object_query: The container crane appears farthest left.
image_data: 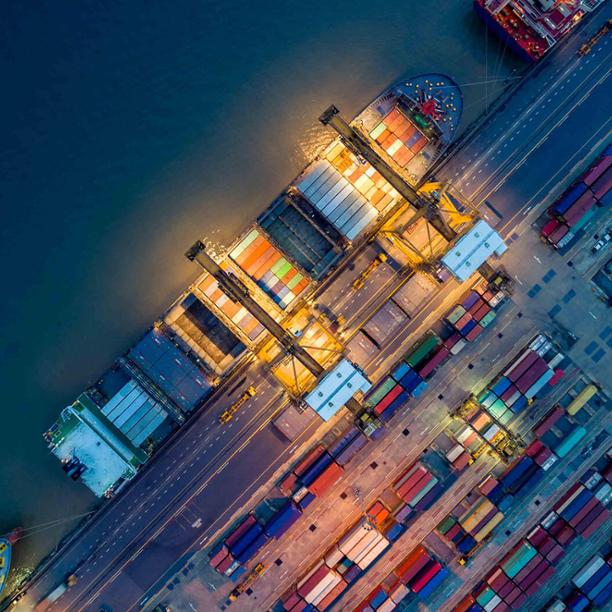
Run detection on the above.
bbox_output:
[184,240,378,433]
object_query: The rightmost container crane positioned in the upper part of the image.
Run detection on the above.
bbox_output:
[317,104,510,297]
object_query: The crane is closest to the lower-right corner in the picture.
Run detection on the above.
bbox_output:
[443,388,520,462]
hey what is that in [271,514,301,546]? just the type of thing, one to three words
shipping container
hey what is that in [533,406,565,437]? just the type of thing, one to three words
shipping container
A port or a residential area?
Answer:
port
